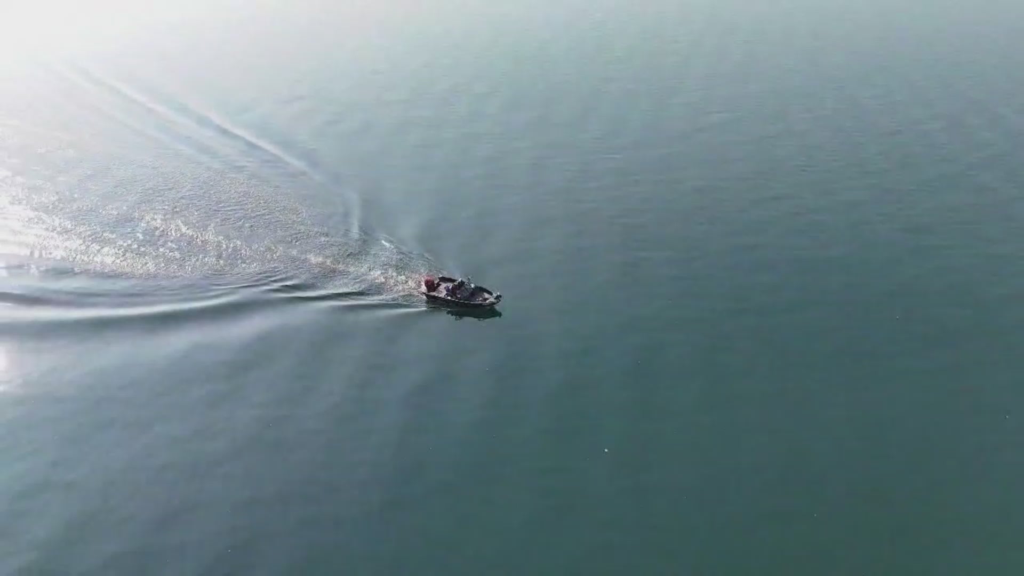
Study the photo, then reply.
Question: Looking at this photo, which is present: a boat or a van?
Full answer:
Of the two, only a boat appears.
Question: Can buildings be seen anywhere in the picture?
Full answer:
No, the scene contains no building.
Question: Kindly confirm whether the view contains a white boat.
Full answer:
No, the scene contains no white boat.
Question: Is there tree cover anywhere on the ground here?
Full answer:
No, there is no tree cover in the image.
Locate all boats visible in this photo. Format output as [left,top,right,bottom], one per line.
[423,274,503,310]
